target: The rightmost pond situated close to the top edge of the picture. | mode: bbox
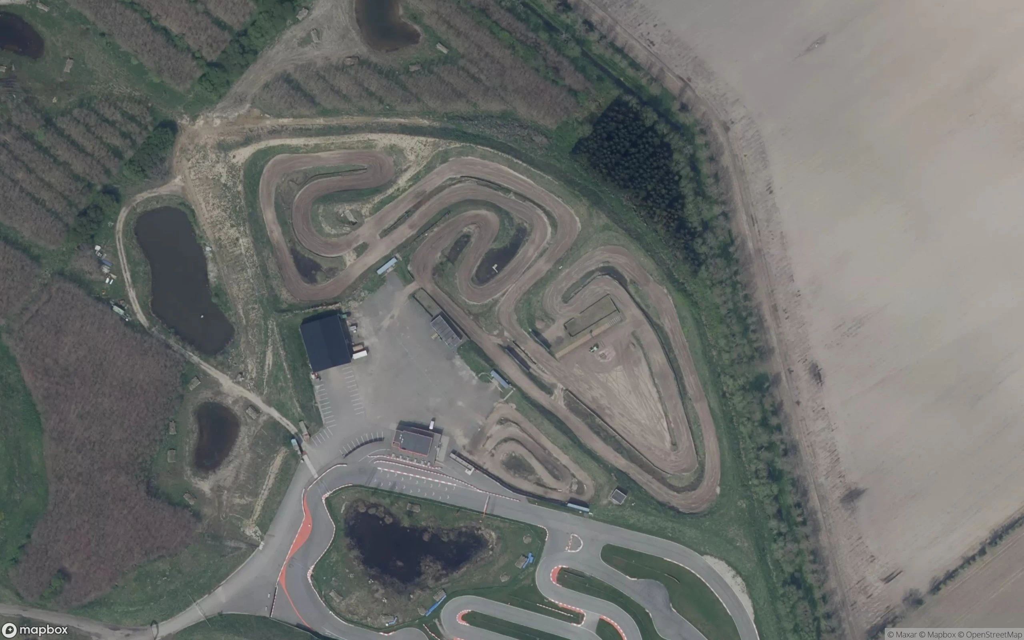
[355,0,420,52]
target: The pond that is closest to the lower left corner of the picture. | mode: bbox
[195,402,241,471]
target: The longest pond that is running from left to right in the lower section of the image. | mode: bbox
[346,514,486,583]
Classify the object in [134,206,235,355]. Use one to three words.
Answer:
pond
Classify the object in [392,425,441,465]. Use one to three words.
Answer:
building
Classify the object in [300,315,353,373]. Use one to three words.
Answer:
barn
